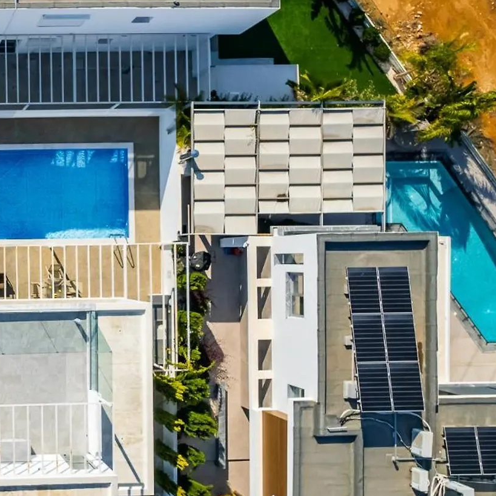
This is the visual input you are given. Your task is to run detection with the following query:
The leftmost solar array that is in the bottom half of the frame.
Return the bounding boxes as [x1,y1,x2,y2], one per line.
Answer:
[343,267,423,411]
